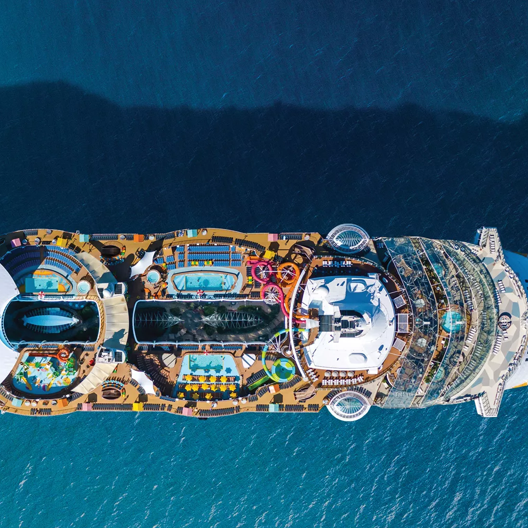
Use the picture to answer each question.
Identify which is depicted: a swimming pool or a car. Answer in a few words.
swimming pool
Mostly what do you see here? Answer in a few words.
water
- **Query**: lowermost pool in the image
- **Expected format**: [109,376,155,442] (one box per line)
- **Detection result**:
[178,352,240,398]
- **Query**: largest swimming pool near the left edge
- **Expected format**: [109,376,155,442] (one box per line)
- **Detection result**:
[12,265,78,297]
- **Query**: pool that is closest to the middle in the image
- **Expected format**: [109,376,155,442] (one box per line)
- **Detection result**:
[164,268,245,295]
